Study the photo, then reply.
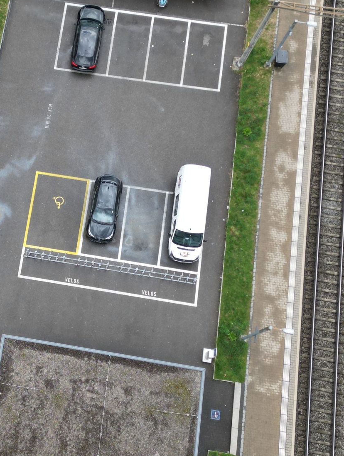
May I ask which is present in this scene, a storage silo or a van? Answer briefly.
van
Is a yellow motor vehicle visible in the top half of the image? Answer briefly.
No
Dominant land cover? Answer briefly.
paved ground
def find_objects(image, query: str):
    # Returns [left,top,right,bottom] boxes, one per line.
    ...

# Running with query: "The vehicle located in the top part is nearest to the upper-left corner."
[71,5,112,74]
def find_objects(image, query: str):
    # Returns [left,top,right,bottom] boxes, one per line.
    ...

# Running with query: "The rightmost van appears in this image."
[169,165,213,260]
